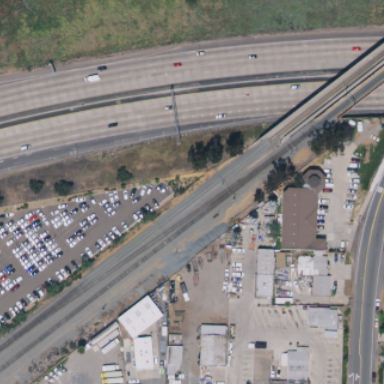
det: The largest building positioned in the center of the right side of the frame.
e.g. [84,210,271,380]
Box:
[282,168,327,250]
